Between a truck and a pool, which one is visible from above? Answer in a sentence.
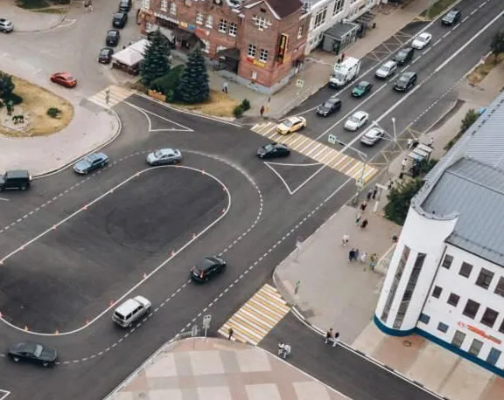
The one in the frame is a truck.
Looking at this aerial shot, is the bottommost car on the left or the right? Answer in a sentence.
It is on the left.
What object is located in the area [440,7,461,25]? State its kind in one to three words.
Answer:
car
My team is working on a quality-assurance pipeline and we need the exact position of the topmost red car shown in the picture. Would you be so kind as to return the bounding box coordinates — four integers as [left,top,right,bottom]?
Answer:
[48,74,80,88]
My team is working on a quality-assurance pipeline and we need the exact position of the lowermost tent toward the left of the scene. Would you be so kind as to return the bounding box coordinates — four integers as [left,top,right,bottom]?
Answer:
[105,50,145,82]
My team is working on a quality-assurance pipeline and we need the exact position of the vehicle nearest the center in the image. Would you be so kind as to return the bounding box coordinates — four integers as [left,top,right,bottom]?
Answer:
[254,142,293,160]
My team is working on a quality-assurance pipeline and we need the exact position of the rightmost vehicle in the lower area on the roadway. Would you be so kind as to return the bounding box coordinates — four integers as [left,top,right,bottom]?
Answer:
[187,256,227,285]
